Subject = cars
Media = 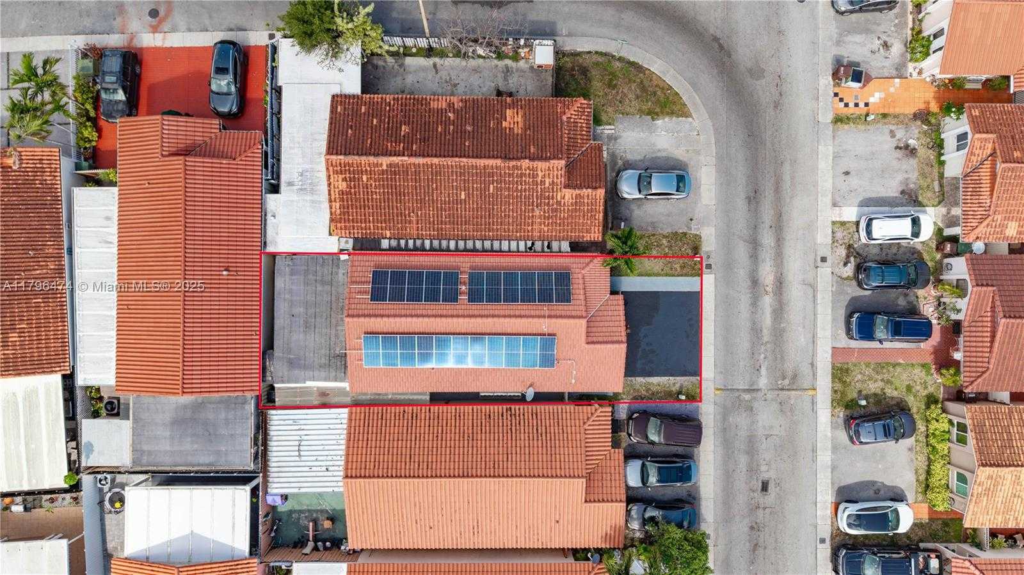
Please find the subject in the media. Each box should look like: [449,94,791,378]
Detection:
[99,48,142,122]
[831,0,902,18]
[625,410,702,447]
[843,308,932,346]
[835,499,910,538]
[207,40,249,118]
[626,498,697,534]
[614,165,690,202]
[854,257,928,294]
[626,456,697,492]
[844,409,914,447]
[858,210,932,246]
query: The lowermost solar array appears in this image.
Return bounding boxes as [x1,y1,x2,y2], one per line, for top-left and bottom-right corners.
[349,335,557,368]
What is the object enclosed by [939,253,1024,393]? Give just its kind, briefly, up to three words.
house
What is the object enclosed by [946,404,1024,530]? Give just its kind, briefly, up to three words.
house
